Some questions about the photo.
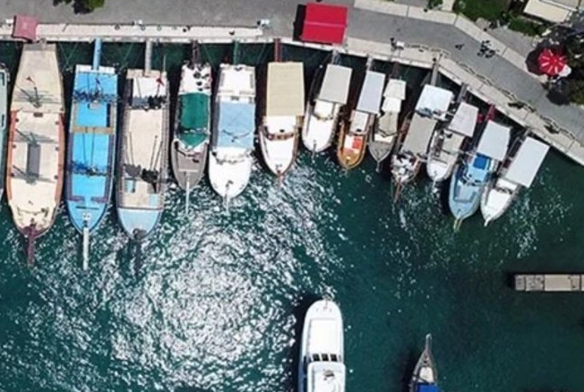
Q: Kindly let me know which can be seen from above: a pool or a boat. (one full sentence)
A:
I can see a boat in this picture.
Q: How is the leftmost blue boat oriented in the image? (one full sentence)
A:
The leftmost blue boat runs from top to bottom in the image.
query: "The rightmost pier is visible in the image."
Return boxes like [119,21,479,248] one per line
[514,275,584,290]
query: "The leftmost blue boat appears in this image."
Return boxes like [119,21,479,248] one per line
[64,40,130,271]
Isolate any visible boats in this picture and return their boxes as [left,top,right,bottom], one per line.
[453,104,512,231]
[6,42,77,268]
[258,39,305,187]
[394,61,454,189]
[205,42,265,214]
[411,333,455,392]
[116,40,181,275]
[482,126,550,227]
[171,40,214,214]
[306,49,356,159]
[298,300,349,392]
[341,53,387,176]
[430,82,479,193]
[371,60,406,172]
[64,40,130,271]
